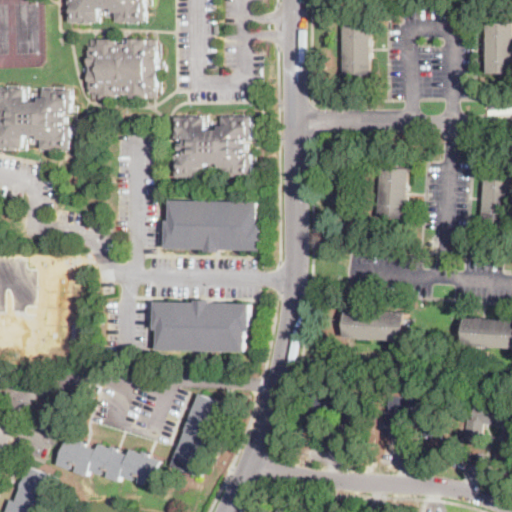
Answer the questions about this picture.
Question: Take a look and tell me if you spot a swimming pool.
No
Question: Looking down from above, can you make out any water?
No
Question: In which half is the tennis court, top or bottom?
top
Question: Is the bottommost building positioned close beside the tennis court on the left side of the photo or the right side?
left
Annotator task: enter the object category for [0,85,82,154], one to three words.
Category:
building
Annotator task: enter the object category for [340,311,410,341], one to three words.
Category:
house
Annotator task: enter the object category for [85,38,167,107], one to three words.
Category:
building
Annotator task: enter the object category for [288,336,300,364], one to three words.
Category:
vehicle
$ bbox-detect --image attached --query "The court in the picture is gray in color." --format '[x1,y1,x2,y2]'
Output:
[0,0,45,67]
